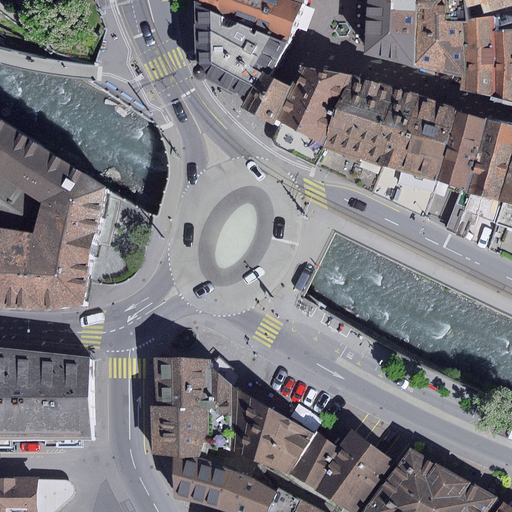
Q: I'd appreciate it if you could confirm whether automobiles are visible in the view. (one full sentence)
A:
Yes, the frame does contain an automobile.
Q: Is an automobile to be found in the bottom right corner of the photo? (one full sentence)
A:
Yes, in the bottom right corner of the photo there is an automobile.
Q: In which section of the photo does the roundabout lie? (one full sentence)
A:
The roundabout sits in the center section of the image.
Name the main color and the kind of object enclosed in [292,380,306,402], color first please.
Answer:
red car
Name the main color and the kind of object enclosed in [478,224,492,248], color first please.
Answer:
white car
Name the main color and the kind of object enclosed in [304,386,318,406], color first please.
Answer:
white car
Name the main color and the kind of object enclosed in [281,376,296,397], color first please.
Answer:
red car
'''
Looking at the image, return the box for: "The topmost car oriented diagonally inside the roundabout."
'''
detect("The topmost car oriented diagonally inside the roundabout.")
[246,160,266,181]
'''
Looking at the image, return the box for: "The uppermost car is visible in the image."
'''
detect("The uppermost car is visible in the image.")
[139,20,156,45]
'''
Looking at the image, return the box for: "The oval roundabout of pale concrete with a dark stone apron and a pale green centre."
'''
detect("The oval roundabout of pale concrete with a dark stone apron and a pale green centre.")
[165,131,303,316]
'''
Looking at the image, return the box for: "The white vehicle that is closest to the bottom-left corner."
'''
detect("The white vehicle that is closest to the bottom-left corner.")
[80,310,106,326]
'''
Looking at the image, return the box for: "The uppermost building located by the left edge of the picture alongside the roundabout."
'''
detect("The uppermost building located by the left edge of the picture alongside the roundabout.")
[0,120,107,308]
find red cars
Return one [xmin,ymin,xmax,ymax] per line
[20,442,40,452]
[292,380,306,402]
[281,376,296,397]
